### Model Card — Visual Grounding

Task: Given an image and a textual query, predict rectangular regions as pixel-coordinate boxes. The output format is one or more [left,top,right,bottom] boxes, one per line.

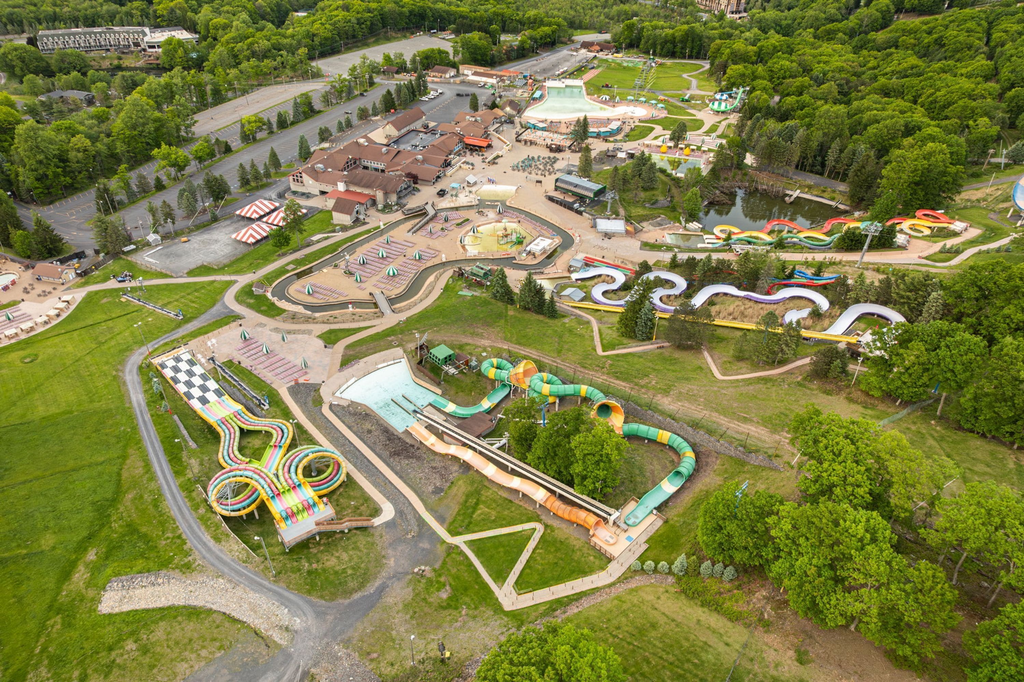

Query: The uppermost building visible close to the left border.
[36,17,199,51]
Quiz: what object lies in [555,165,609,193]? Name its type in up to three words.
building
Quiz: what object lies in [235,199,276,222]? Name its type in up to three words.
tent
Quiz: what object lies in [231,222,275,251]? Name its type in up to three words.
tent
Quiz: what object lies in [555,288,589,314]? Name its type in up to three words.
shed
